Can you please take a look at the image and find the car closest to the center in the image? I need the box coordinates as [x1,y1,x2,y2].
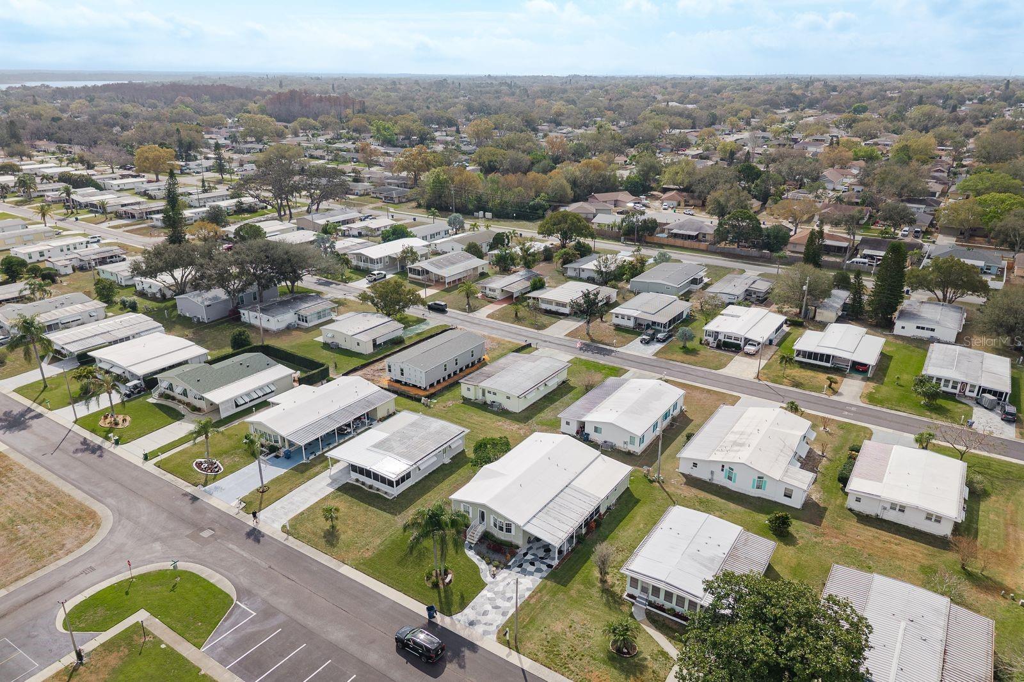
[425,301,451,313]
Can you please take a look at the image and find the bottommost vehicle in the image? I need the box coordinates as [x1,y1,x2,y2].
[389,621,452,666]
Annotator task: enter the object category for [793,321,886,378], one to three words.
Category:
house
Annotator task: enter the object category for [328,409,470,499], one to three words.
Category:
house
